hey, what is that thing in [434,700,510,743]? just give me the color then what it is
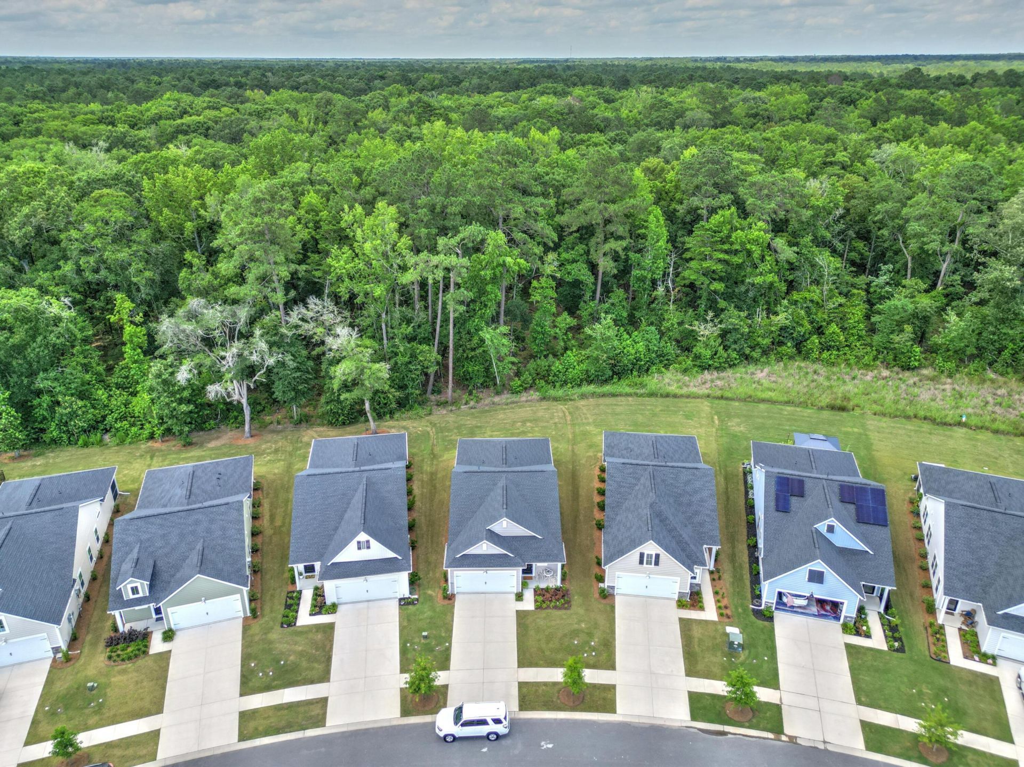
white car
